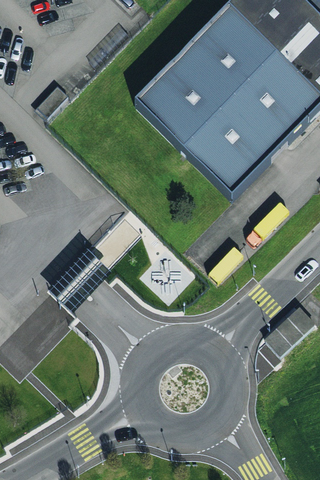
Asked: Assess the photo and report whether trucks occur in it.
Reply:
Yes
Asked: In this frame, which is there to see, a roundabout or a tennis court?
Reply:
roundabout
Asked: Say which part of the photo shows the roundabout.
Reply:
bottom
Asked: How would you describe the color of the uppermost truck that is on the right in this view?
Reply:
yellow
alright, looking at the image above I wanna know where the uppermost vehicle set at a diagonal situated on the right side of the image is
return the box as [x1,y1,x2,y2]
[245,202,288,252]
